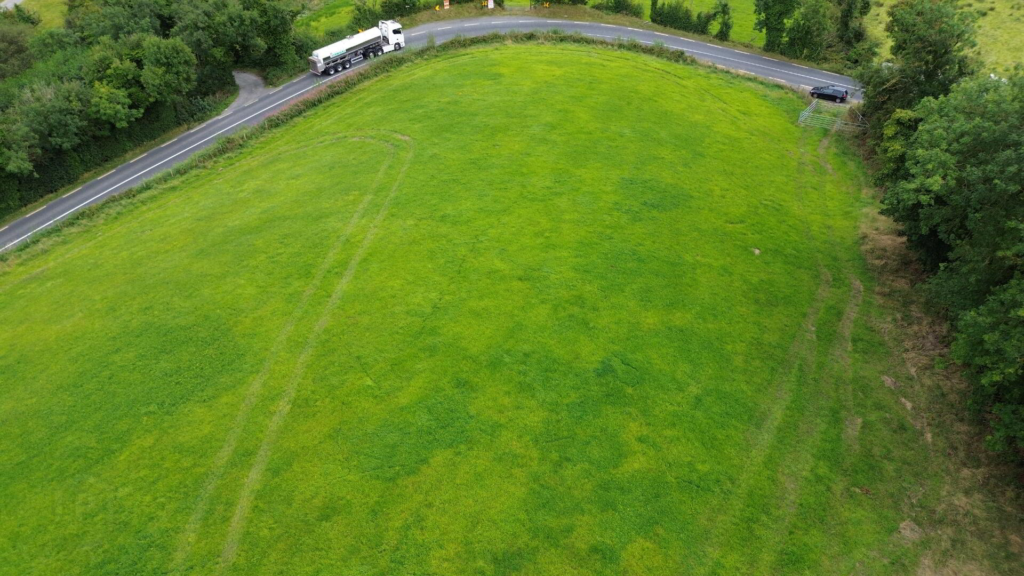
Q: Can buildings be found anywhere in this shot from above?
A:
No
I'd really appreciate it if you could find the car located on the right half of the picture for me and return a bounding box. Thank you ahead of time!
[811,85,850,103]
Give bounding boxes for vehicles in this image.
[307,16,405,76]
[811,85,850,103]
